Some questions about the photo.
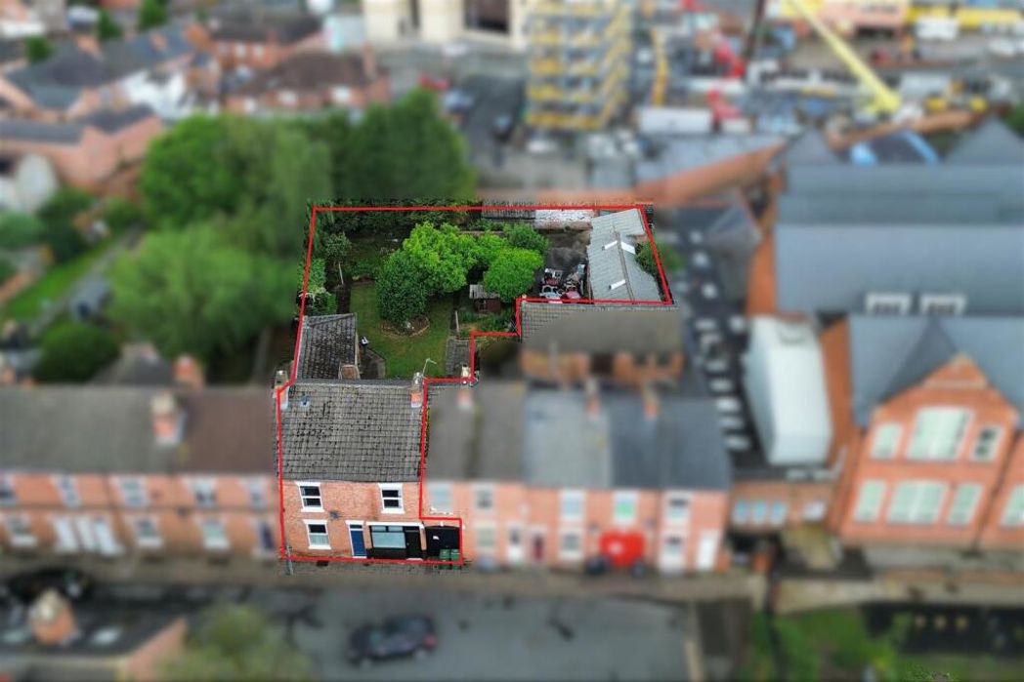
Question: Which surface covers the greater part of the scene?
buildings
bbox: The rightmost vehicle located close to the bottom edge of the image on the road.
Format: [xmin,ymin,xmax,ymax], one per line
[343,617,440,669]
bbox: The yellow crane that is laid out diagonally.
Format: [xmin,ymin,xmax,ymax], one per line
[810,0,919,117]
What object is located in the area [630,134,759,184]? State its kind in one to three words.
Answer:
building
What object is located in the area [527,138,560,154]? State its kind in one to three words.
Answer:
car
